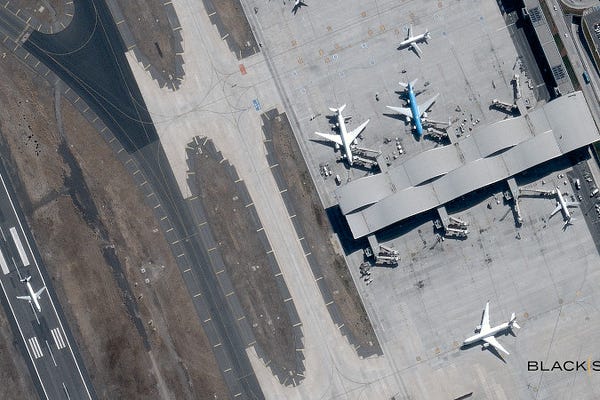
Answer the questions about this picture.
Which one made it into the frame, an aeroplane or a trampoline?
aeroplane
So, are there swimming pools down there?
No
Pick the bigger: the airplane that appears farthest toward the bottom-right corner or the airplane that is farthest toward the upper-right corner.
the airplane that appears farthest toward the bottom-right corner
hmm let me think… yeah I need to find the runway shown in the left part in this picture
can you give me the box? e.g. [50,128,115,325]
[0,152,100,400]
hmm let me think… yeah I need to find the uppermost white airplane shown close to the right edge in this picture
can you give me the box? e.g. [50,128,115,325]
[551,187,582,225]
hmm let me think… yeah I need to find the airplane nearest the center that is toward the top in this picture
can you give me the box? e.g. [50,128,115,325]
[315,105,370,166]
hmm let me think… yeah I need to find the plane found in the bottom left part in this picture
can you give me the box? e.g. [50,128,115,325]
[16,275,46,313]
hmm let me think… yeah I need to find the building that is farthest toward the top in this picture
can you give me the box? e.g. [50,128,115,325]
[523,0,572,89]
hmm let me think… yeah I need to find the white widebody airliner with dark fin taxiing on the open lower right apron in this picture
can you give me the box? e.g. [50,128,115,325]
[463,302,521,353]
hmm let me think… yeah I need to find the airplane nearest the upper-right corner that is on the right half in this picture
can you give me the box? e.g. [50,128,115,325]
[400,24,432,54]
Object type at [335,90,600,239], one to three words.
building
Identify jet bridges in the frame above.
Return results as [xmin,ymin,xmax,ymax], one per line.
[515,75,521,99]
[379,245,399,255]
[519,189,555,194]
[354,146,382,154]
[424,118,452,124]
[428,127,449,136]
[492,100,517,108]
[446,228,469,234]
[354,155,377,165]
[449,217,469,227]
[515,197,522,224]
